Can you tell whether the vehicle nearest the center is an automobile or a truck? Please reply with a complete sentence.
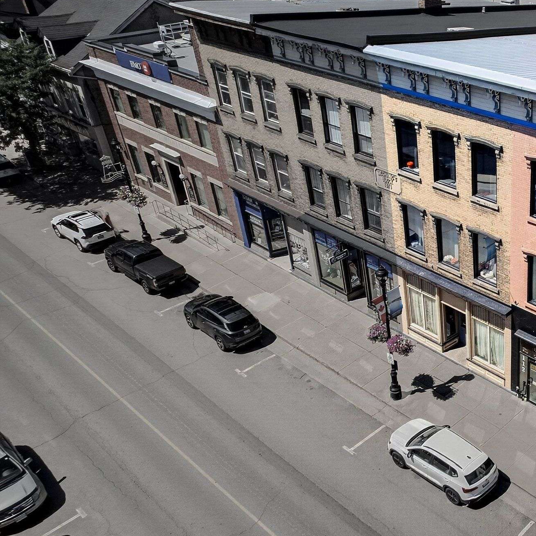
Looking closely, the vehicle nearest the center is an automobile.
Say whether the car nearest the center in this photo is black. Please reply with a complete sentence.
Yes, the car nearest the center is black.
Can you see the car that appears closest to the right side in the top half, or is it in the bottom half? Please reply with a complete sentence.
Seen from above, the car that appears closest to the right side lies in the bottom half of the view.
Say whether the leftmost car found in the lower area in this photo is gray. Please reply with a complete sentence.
Yes, the leftmost car found in the lower area is indeed gray.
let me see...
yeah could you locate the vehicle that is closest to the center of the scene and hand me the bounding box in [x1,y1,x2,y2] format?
[182,296,263,352]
